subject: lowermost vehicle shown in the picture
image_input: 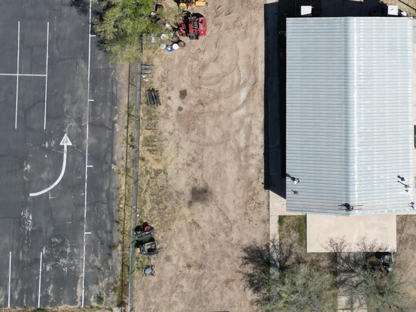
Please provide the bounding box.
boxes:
[136,242,158,255]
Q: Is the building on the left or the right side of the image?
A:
right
